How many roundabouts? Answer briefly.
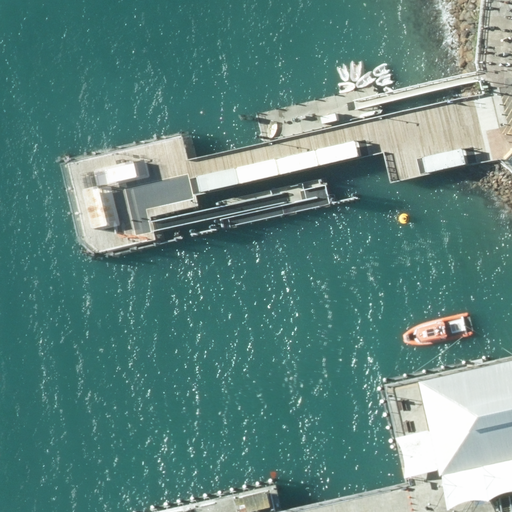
0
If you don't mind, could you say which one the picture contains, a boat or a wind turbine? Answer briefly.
boat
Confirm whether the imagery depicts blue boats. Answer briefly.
No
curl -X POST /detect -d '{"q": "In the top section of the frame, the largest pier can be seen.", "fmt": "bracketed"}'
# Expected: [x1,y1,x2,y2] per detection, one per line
[56,92,491,259]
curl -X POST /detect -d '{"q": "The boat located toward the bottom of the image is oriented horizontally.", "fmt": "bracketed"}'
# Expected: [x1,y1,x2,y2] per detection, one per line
[402,313,478,345]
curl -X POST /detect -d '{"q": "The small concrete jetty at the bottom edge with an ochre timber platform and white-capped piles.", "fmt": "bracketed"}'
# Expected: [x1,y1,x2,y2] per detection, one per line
[140,482,280,512]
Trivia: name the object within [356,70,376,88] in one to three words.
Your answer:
boat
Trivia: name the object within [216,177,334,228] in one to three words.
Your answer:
pier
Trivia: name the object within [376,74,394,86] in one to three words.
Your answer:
boat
